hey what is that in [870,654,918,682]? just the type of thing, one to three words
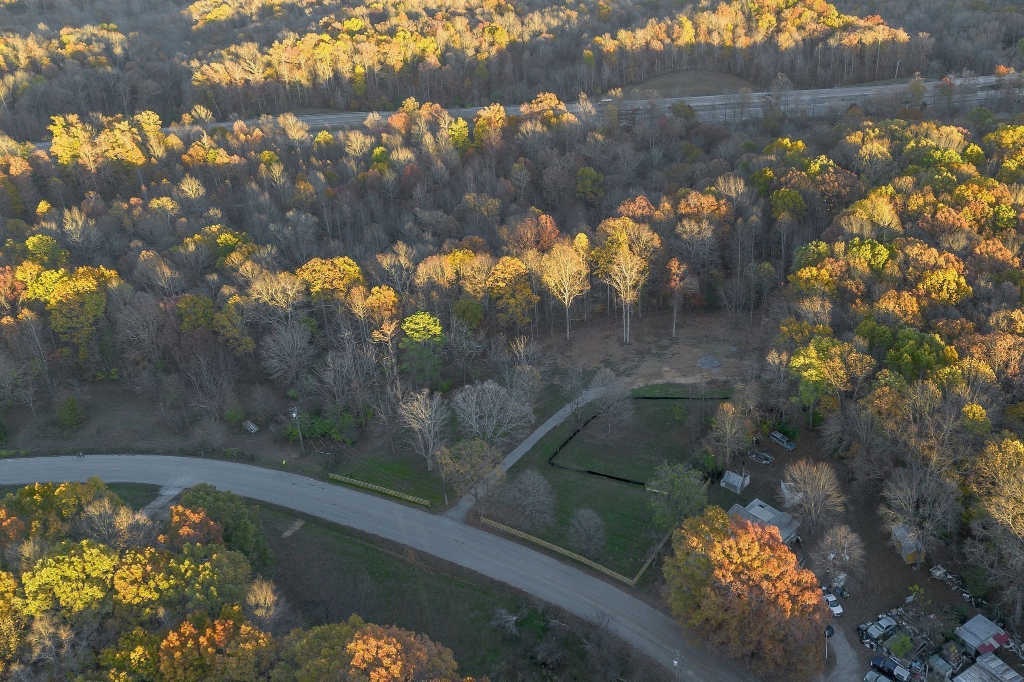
truck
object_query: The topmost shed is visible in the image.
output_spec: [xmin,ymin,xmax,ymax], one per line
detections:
[720,471,752,496]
